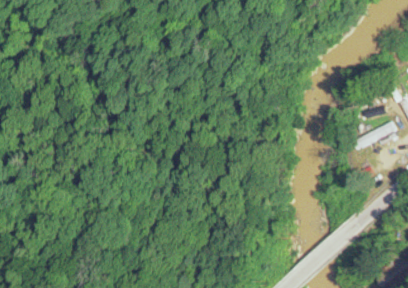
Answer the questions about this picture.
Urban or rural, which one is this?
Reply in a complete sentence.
This place is rural.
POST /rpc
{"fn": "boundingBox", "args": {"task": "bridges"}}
[276,217,364,288]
